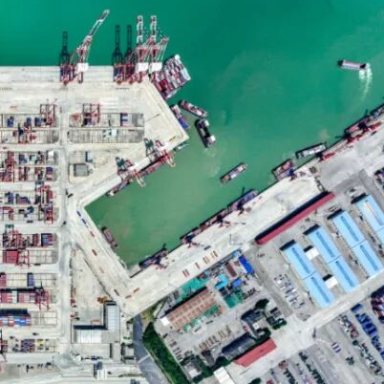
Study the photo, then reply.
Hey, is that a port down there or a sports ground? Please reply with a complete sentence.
What you see here is a port.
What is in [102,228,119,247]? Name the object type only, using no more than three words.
ship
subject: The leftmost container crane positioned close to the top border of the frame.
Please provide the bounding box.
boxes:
[70,7,104,87]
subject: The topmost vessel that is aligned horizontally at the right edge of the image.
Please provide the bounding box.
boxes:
[335,58,369,71]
